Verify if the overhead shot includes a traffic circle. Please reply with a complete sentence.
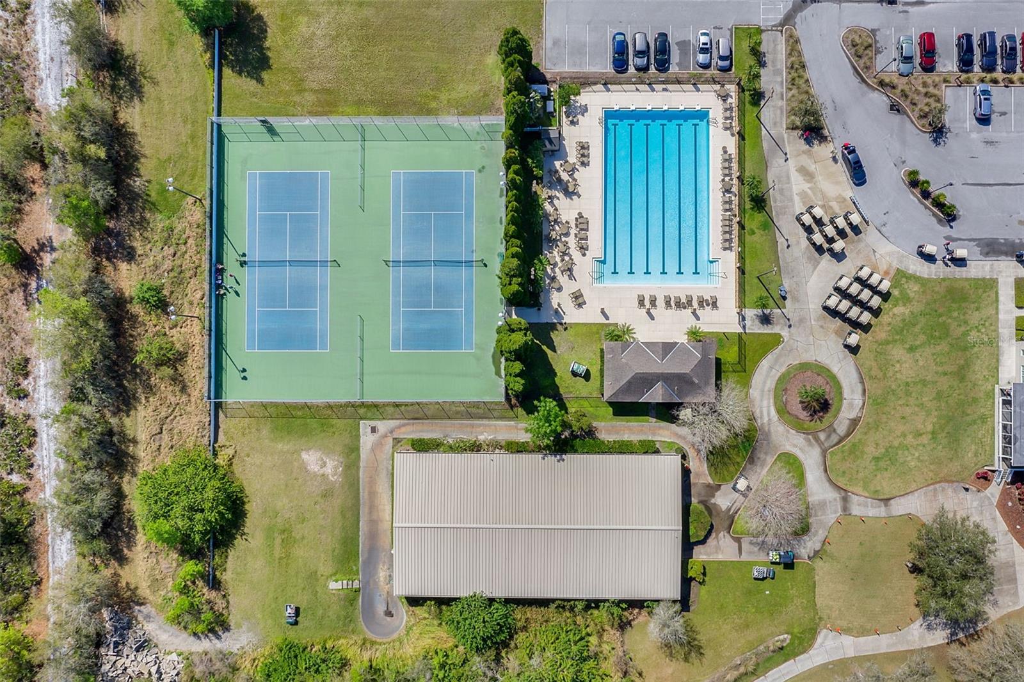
Yes, you can see a traffic circle in this photo.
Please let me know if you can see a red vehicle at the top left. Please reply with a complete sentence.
No, there's no red vehicle to be seen at the top left.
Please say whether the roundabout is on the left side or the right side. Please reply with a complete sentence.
It is on the right.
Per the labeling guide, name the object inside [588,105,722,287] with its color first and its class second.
blue swimming pool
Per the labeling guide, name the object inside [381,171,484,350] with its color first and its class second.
blue tennis court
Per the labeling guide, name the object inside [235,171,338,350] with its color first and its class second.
blue tennis court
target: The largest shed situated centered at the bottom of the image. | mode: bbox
[393,452,683,601]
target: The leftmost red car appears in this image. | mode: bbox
[917,34,936,68]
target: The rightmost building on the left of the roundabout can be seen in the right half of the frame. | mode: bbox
[604,341,716,402]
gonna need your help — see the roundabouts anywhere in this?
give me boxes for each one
[773,362,844,432]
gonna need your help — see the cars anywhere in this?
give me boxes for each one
[612,34,629,72]
[840,144,864,183]
[977,33,998,70]
[954,34,974,72]
[695,31,713,69]
[653,34,671,72]
[632,34,650,71]
[1018,33,1024,70]
[998,35,1018,73]
[895,38,913,75]
[715,37,733,73]
[972,83,993,120]
[917,34,936,68]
